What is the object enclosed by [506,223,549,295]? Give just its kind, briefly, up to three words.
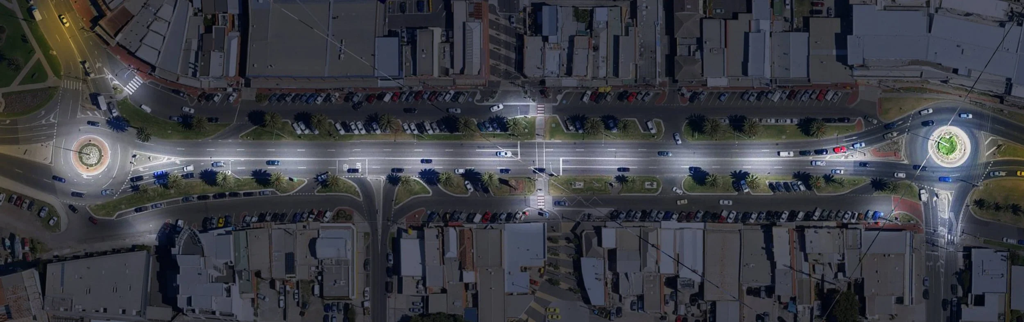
building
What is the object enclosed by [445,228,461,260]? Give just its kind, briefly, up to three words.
building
